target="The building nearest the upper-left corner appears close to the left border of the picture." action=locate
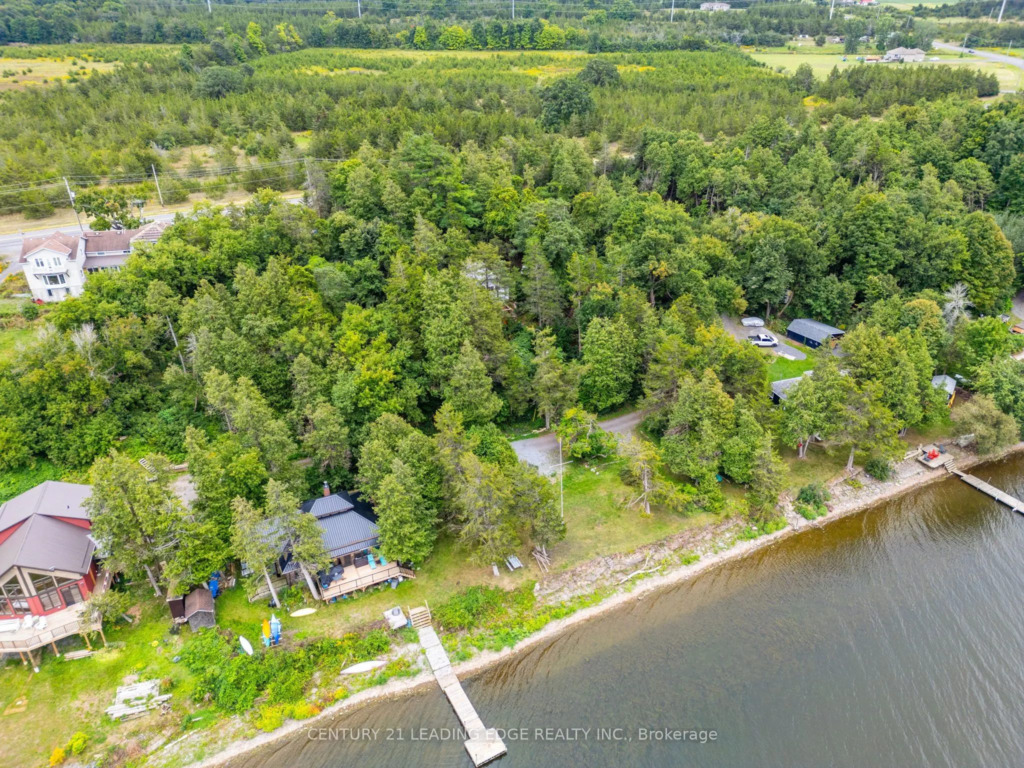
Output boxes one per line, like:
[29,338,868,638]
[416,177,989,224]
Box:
[19,221,173,302]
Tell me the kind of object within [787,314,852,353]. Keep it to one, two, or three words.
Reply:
building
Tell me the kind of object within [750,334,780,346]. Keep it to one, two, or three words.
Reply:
vehicle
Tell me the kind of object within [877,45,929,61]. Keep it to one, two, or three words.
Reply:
house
